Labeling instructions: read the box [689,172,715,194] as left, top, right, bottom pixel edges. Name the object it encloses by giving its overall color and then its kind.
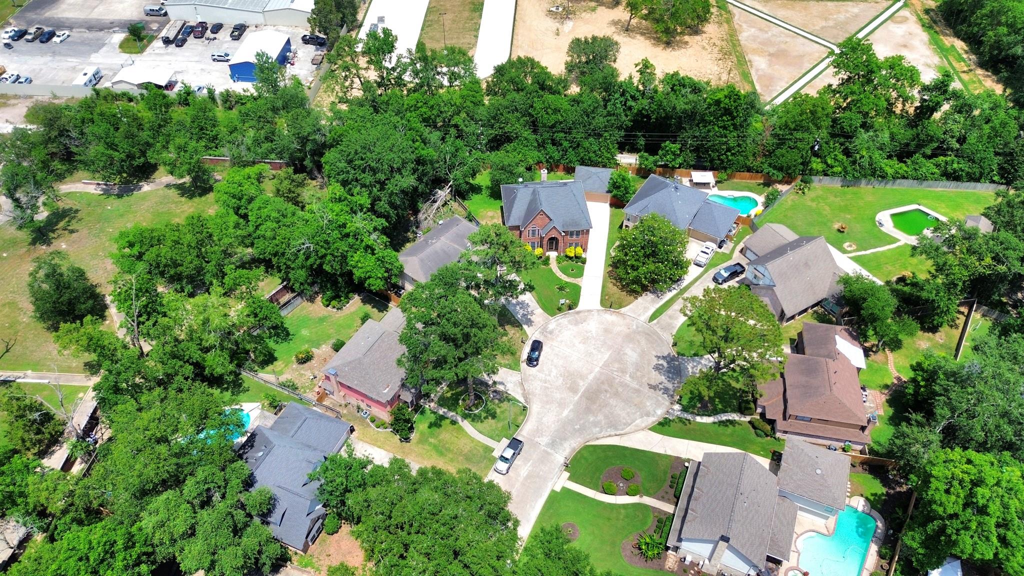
white gazebo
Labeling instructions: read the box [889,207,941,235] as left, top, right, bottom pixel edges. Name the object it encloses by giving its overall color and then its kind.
green swimming pool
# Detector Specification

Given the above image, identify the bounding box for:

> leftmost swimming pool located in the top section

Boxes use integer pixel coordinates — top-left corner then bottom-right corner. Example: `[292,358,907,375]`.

[705,193,759,215]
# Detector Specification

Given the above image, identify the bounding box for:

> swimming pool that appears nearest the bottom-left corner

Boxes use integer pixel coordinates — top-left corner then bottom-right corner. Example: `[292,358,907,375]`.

[190,406,251,448]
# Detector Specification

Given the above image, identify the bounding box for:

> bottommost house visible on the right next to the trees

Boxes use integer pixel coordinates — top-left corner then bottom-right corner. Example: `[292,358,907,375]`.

[665,439,851,576]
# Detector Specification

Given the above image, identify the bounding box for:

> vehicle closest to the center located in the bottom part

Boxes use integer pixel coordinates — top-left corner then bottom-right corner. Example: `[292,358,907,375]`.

[526,334,543,365]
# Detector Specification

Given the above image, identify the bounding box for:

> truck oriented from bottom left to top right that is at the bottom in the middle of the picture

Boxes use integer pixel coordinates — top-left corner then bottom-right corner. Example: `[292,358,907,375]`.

[493,432,528,476]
